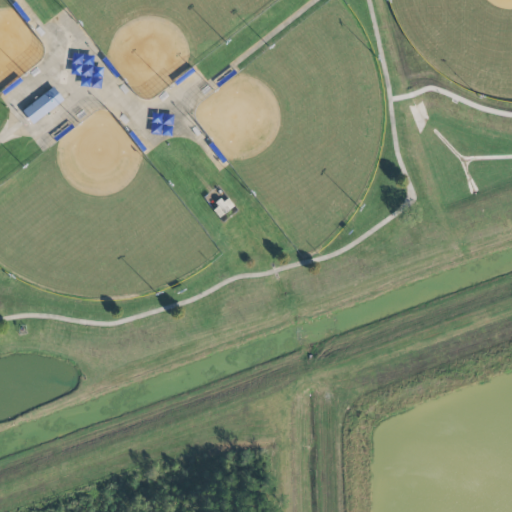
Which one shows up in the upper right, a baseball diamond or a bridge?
baseball diamond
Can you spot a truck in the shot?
No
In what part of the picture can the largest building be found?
top left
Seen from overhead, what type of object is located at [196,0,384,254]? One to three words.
baseball field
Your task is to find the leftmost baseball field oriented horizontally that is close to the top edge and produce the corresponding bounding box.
[60,0,283,98]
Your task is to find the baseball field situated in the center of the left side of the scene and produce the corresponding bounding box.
[0,110,219,300]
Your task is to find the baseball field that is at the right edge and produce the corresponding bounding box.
[388,0,512,100]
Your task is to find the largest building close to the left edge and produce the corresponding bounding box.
[24,87,64,124]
